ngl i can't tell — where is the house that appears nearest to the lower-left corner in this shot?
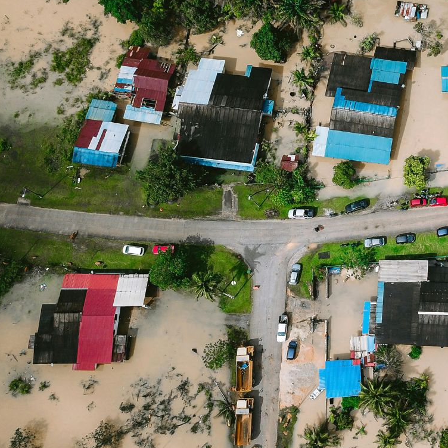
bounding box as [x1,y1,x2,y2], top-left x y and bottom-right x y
[28,269,153,370]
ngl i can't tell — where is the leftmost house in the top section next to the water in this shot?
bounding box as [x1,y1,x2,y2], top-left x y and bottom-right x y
[73,99,133,168]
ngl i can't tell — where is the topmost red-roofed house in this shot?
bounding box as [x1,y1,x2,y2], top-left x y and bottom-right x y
[114,47,179,127]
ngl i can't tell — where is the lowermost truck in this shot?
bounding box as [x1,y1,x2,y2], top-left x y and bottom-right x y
[231,398,254,448]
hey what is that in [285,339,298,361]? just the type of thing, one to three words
vehicle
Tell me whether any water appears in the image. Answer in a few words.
Yes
